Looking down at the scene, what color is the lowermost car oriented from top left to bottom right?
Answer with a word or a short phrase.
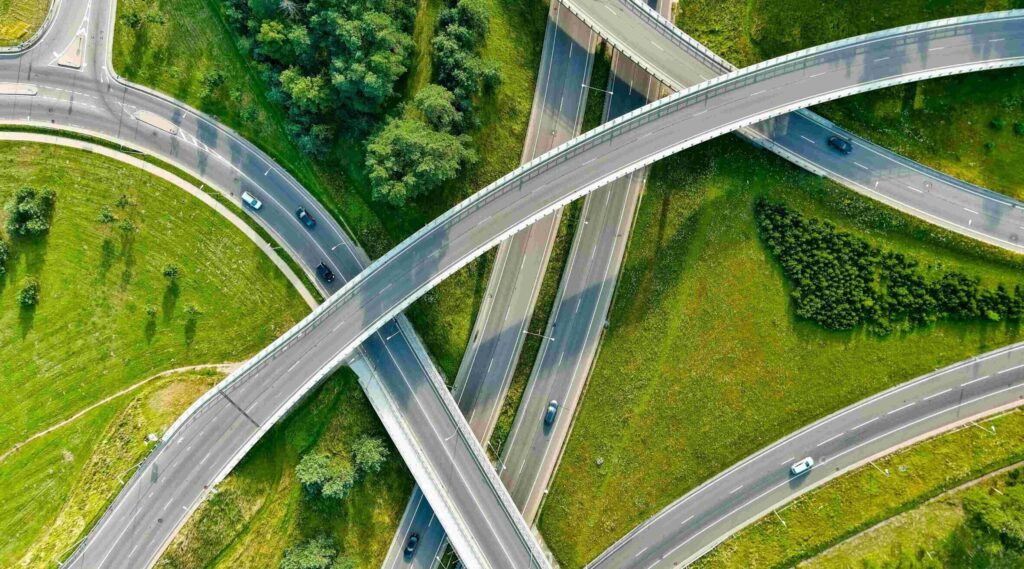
black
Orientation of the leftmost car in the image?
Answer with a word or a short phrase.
at an angle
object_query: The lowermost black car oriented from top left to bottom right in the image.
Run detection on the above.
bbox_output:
[315,261,335,283]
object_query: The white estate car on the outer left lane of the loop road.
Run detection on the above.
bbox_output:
[239,190,263,211]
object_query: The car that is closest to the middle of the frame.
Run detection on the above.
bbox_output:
[544,400,558,425]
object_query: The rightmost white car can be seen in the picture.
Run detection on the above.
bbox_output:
[790,457,814,475]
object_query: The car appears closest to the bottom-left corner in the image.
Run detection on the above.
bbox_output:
[404,534,420,558]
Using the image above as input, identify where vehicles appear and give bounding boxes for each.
[827,136,853,154]
[315,261,335,283]
[790,457,814,475]
[295,206,318,229]
[544,400,558,425]
[404,534,420,558]
[239,190,263,211]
